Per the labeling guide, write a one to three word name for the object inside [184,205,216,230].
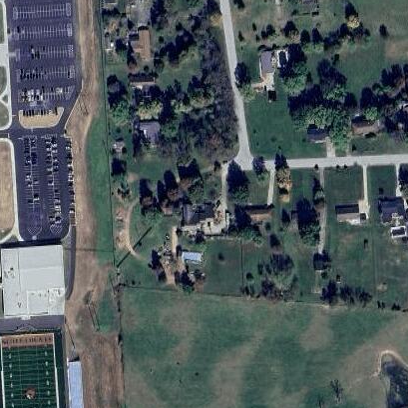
house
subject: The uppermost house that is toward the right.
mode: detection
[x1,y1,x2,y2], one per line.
[258,51,274,76]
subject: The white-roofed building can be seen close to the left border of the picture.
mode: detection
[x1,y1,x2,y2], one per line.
[0,246,63,320]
